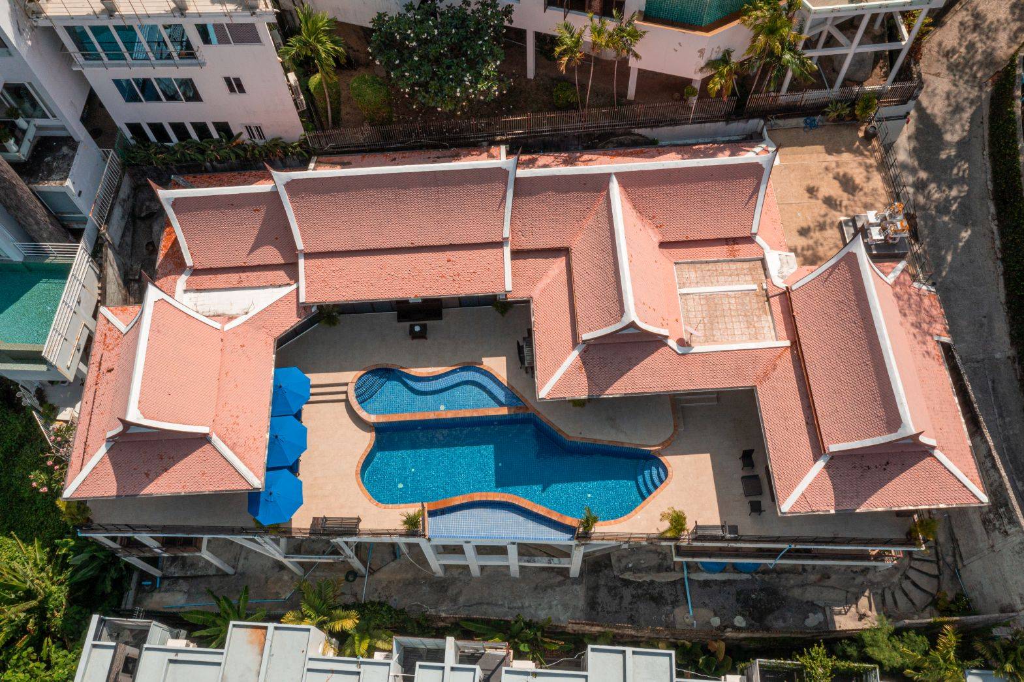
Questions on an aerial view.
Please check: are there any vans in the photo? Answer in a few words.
No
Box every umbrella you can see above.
[241,468,311,533]
[276,364,318,418]
[271,415,315,471]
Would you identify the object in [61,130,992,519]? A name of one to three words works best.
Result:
house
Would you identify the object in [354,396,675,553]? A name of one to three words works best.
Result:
swimming pool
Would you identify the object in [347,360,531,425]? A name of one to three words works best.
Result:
swimming pool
